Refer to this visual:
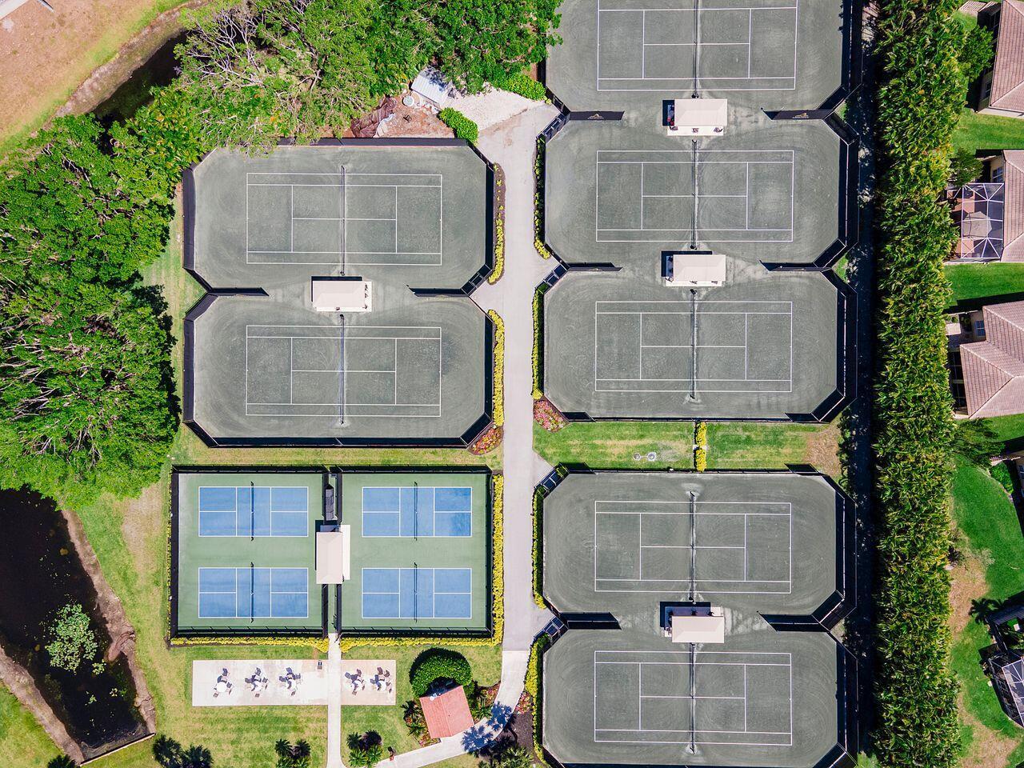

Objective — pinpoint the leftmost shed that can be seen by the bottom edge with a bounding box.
[420,679,474,737]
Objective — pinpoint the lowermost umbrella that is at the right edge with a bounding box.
[963,212,990,238]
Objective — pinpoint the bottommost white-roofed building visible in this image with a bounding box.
[665,606,724,643]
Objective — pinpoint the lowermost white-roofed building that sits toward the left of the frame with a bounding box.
[316,525,350,584]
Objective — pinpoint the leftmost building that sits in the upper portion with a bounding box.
[313,280,372,312]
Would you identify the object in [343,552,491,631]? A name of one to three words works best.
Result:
sports court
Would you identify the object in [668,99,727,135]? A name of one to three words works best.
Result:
building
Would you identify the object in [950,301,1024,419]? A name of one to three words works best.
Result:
house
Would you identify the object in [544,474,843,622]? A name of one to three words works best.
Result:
tennis court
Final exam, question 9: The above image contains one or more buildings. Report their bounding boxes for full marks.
[665,606,724,643]
[420,679,474,737]
[412,71,453,111]
[980,0,1024,118]
[668,99,727,135]
[990,149,1024,262]
[666,254,726,287]
[950,301,1024,419]
[328,487,338,523]
[313,280,372,312]
[316,525,350,584]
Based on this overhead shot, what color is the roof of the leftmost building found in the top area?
white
